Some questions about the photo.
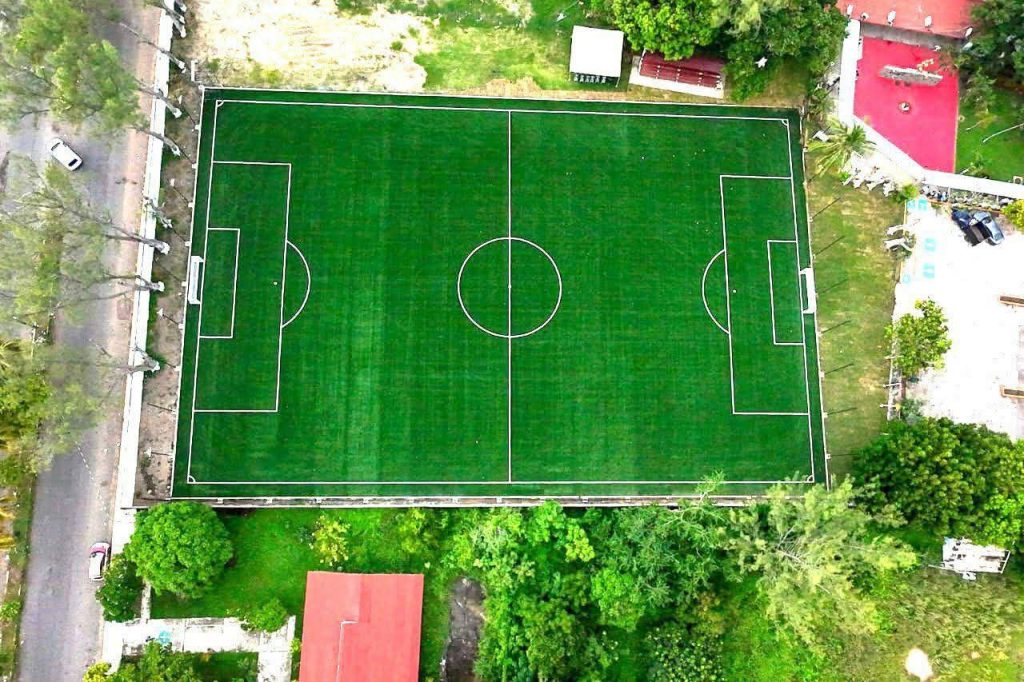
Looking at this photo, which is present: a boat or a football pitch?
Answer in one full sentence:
The image shows a football pitch.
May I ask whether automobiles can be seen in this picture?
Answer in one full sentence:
Yes, the picture does show an automobile.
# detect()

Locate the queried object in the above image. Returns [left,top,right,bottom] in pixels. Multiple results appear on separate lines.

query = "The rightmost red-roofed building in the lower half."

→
[299,572,424,682]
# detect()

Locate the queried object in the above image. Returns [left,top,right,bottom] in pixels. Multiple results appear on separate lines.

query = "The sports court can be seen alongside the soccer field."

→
[855,35,968,174]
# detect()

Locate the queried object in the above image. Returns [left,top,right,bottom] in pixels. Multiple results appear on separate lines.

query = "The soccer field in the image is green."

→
[169,86,830,498]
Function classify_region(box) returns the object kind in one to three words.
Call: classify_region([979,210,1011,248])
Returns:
car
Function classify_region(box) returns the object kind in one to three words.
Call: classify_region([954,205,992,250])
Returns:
truck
